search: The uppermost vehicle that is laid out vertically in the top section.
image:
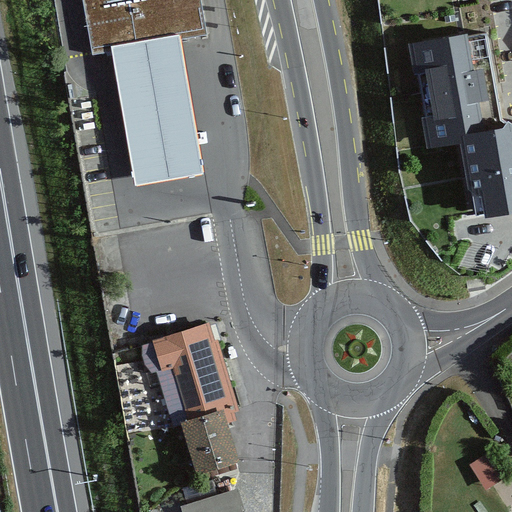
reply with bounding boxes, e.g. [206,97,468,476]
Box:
[224,64,236,88]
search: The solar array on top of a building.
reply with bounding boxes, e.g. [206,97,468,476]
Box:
[190,339,225,403]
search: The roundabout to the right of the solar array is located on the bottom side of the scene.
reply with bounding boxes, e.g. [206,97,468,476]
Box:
[286,278,428,419]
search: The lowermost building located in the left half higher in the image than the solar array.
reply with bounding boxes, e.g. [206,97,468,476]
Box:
[111,33,208,187]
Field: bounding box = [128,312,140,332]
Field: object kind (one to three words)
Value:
vehicle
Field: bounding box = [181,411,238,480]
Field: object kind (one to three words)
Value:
house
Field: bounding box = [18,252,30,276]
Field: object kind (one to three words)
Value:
vehicle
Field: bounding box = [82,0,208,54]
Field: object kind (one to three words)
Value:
building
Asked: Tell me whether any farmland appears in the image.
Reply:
No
